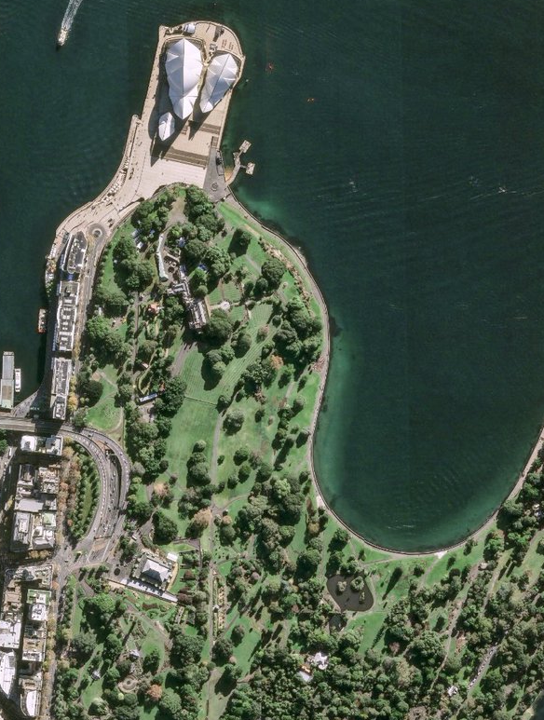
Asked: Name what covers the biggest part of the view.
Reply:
water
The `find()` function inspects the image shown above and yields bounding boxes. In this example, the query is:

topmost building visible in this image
[151,24,241,167]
